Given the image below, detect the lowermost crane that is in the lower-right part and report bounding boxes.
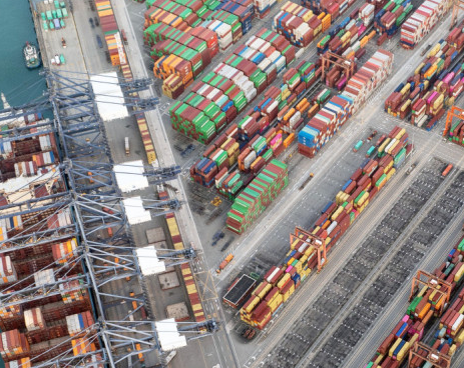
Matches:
[407,339,451,368]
